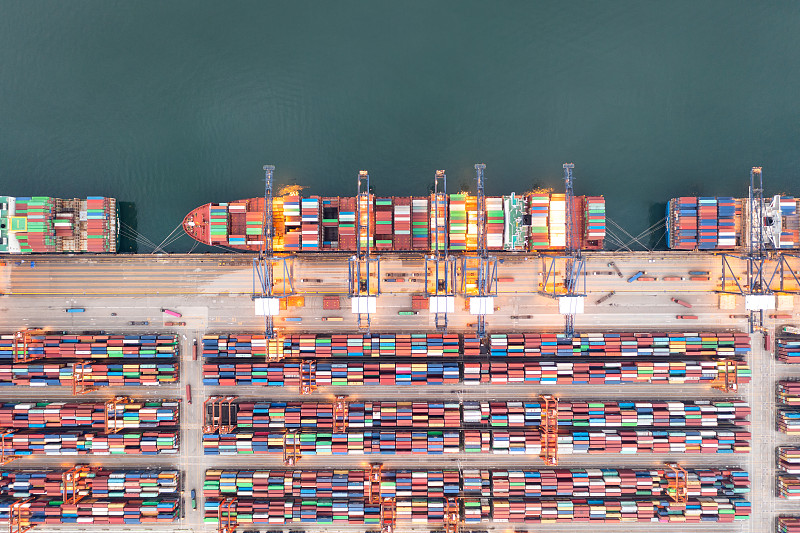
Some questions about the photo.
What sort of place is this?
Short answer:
port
